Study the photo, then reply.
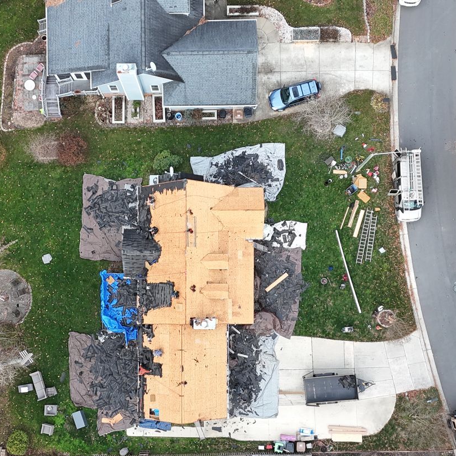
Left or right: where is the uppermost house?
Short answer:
left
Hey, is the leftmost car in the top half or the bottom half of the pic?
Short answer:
top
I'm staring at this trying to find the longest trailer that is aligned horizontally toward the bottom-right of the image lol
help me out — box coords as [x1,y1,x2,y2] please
[309,371,377,405]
